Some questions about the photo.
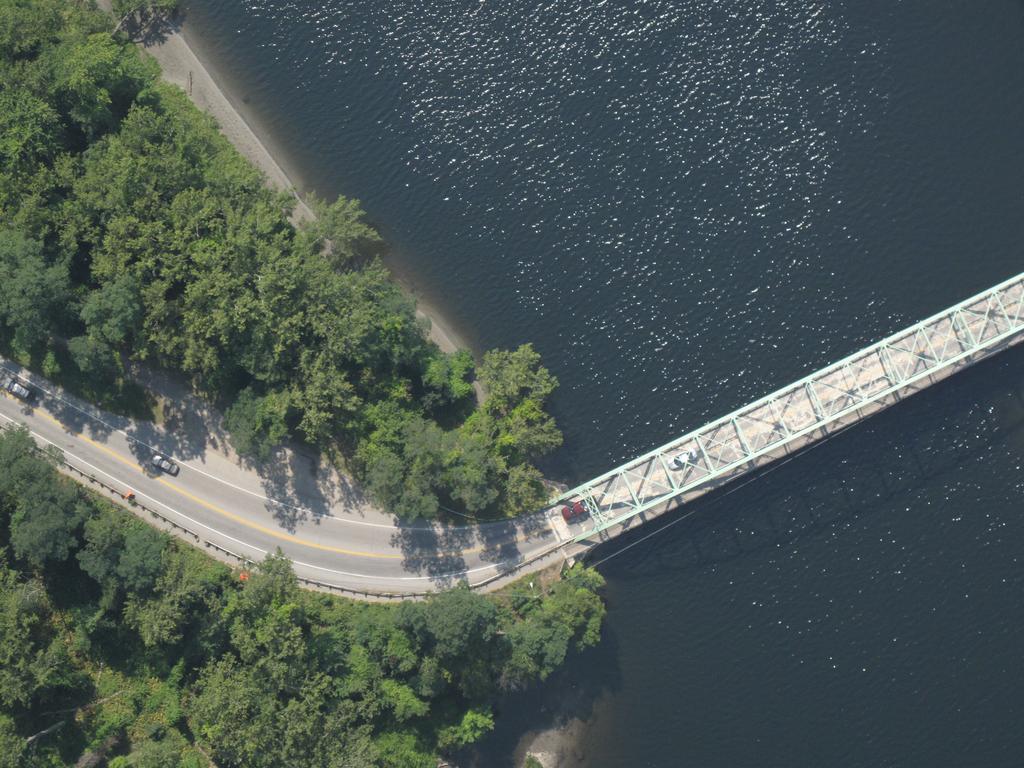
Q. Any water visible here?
Yes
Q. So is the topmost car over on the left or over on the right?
left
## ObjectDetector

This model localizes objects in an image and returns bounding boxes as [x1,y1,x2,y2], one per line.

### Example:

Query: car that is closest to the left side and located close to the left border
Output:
[0,375,32,398]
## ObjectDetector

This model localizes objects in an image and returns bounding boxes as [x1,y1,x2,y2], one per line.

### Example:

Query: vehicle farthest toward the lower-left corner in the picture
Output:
[149,454,180,477]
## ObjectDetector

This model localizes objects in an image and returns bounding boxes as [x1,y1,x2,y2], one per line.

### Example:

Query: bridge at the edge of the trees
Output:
[546,269,1024,567]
